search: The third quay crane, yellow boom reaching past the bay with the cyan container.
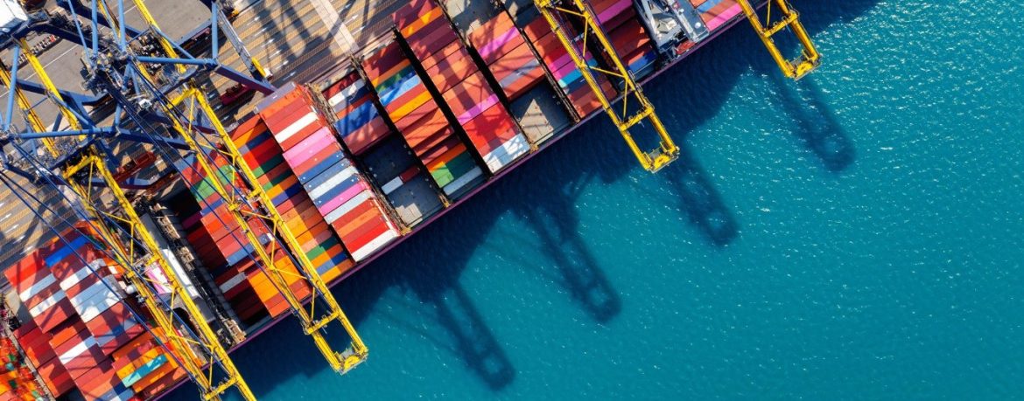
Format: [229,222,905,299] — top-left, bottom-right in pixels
[538,0,685,174]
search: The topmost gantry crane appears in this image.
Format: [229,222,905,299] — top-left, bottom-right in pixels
[739,0,830,83]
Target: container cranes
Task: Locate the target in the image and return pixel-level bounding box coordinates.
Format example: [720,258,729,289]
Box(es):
[43,0,368,376]
[0,0,255,401]
[739,0,830,83]
[538,0,685,174]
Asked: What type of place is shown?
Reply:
port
